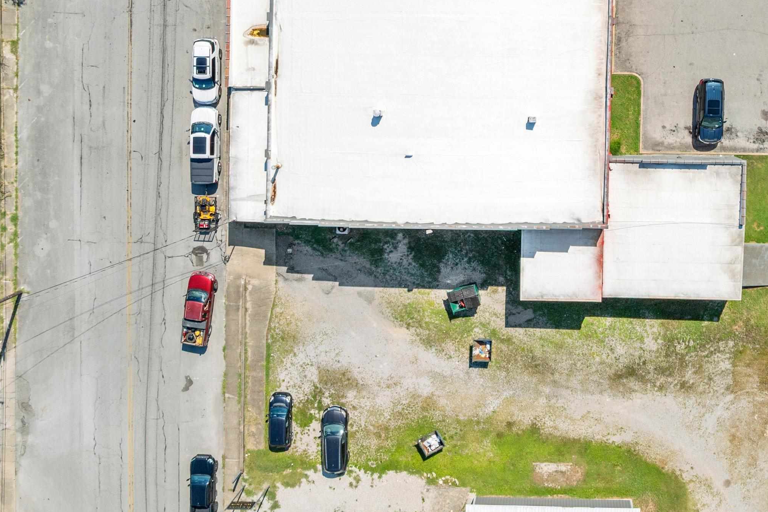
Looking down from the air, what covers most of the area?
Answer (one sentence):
For the most part, this view shows paved ground.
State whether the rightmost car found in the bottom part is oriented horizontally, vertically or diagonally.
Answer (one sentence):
What the image shows is the rightmost car found in the bottom part lying vertically.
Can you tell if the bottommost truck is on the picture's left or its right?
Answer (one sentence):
It is on the left.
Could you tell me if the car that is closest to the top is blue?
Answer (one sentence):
No, the color of the car that is closest to the top is white.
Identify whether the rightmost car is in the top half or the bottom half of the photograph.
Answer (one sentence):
Seen from above, the rightmost car lies in the top half of the view.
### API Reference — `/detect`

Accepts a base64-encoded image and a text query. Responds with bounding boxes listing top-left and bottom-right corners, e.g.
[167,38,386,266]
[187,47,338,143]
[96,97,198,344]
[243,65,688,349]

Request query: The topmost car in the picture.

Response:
[188,39,224,105]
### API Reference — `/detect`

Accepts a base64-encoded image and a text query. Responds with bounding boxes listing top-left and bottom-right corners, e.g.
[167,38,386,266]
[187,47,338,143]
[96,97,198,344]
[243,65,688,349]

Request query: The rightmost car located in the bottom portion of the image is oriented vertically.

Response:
[317,404,350,476]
